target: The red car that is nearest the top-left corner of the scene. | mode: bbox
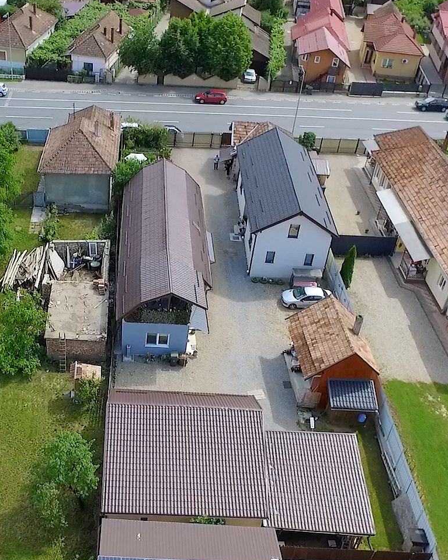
[195,88,228,104]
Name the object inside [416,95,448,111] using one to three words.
car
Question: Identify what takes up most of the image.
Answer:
buildings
